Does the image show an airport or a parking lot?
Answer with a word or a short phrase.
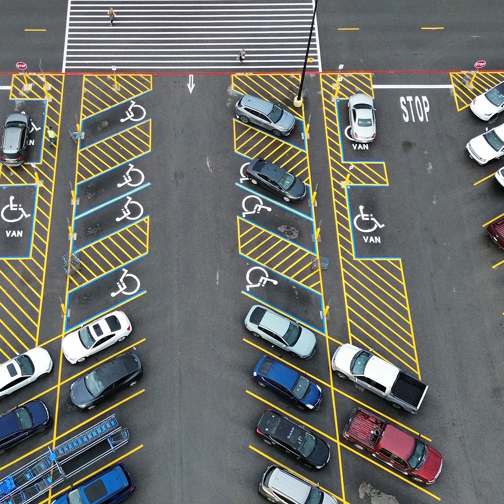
parking lot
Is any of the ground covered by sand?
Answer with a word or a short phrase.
No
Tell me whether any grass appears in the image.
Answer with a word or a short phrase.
No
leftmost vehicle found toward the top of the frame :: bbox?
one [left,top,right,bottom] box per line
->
[0,112,33,169]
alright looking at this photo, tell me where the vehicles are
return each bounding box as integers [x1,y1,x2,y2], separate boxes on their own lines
[258,463,342,504]
[231,94,295,138]
[0,348,55,402]
[248,353,324,413]
[345,91,379,144]
[472,82,504,120]
[336,404,448,487]
[327,342,432,418]
[464,124,504,170]
[0,112,33,169]
[241,155,309,204]
[0,398,57,457]
[249,407,336,472]
[50,462,136,504]
[59,309,134,366]
[241,303,314,359]
[68,351,147,413]
[482,215,504,254]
